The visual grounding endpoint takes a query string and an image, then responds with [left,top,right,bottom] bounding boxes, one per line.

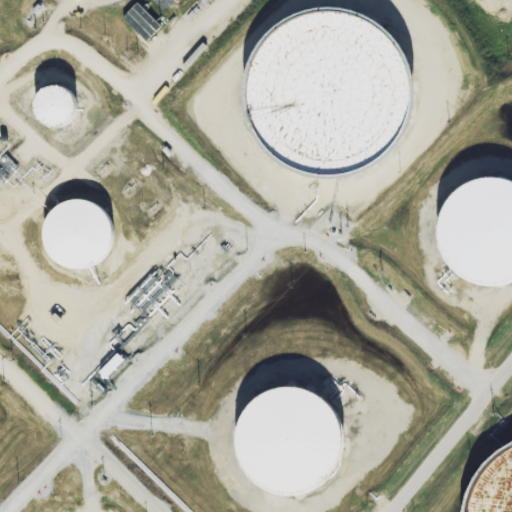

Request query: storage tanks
[462,442,512,512]
[234,386,344,496]
[32,84,78,129]
[436,176,512,286]
[242,6,414,177]
[43,198,114,270]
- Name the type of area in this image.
industrial area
